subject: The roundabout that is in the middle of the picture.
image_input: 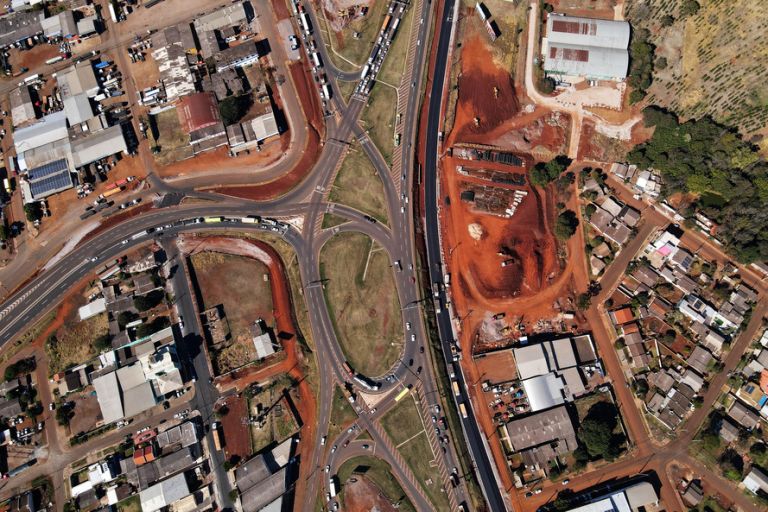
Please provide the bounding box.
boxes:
[319,231,405,376]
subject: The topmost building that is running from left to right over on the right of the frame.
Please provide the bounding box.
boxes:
[546,14,630,49]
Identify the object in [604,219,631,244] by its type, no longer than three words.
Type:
house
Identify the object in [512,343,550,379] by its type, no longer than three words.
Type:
building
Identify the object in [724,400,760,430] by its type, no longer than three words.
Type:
house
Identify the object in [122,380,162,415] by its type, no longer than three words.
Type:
building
